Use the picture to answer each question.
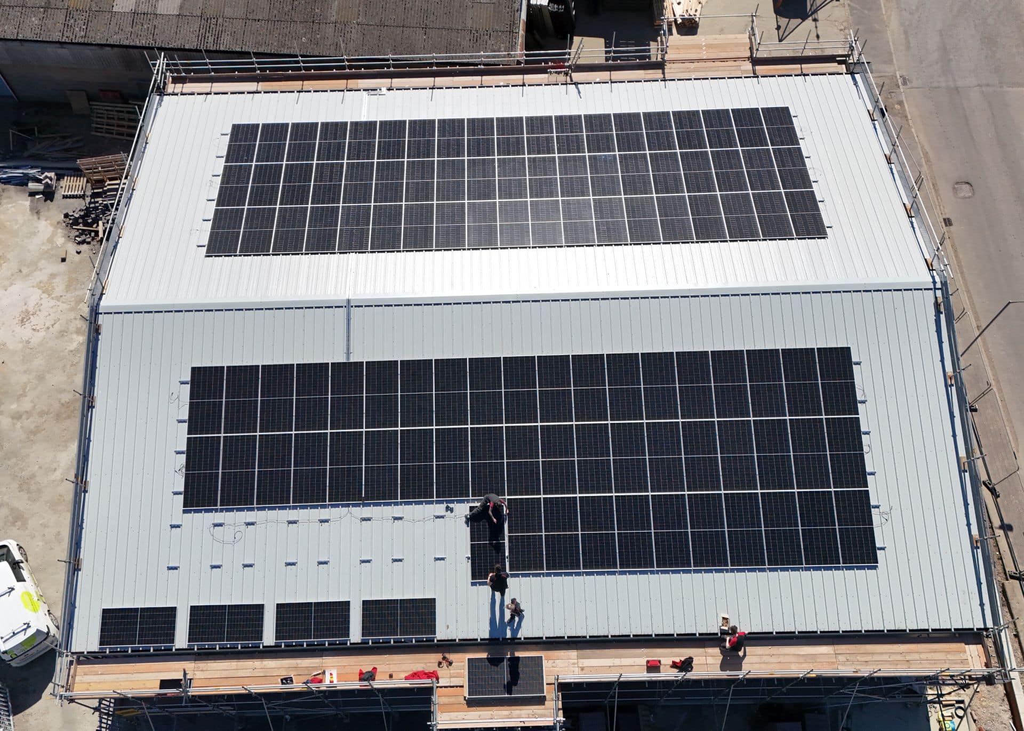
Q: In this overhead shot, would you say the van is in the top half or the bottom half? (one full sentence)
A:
The van is in the bottom half of the image.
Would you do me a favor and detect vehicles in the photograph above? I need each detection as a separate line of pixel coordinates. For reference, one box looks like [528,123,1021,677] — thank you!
[0,535,59,672]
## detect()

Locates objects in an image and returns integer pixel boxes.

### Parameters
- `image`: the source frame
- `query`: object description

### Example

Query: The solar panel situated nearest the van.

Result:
[99,607,177,647]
